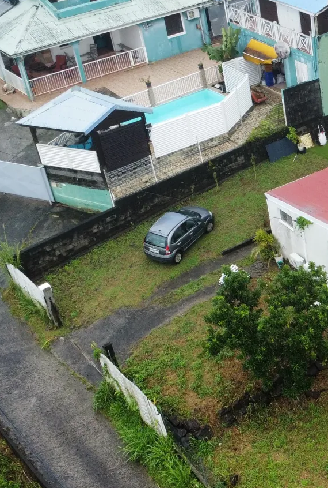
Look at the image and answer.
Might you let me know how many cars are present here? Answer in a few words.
1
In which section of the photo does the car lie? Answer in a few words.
center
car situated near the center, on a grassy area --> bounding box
[132,207,209,263]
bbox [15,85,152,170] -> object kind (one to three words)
building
